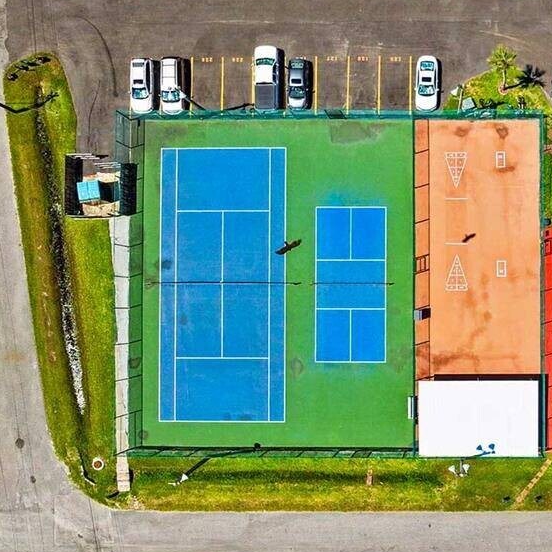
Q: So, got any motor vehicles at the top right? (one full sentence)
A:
Yes, a motor vehicle is visible at the top right.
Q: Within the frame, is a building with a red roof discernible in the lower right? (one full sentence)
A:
No, there's no building with a red roof to be seen in the lower right.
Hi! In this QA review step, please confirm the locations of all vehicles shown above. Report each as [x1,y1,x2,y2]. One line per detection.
[159,57,189,118]
[128,57,159,111]
[253,46,283,111]
[286,58,313,111]
[414,57,441,111]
